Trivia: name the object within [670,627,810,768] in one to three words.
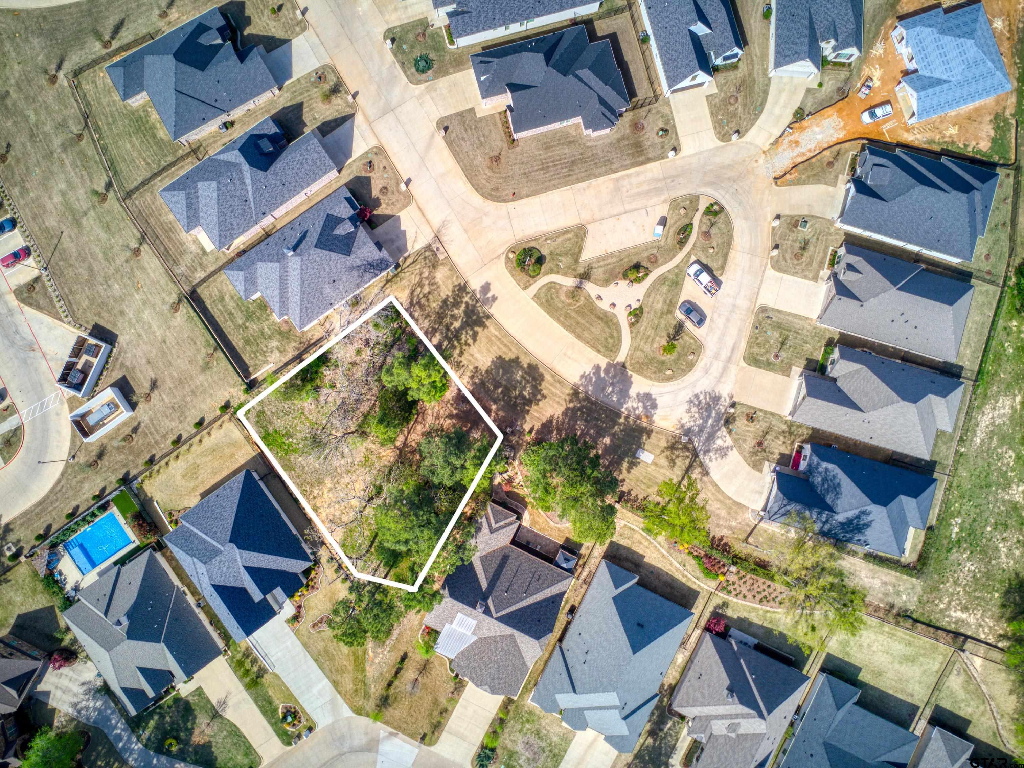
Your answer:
house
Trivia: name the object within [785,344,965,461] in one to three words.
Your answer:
house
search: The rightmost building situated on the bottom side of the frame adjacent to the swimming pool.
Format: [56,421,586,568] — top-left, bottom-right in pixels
[163,468,317,643]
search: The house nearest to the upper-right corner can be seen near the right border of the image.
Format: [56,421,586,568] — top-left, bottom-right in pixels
[887,2,1012,128]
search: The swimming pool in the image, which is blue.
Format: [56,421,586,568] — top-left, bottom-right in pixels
[62,510,133,577]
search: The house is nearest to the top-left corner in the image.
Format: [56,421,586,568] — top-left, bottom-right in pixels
[105,6,283,147]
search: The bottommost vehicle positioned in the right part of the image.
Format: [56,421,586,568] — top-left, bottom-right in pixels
[677,298,710,331]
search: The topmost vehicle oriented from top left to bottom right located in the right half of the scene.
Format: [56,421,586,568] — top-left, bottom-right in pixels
[686,259,724,299]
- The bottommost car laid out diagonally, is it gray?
Yes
